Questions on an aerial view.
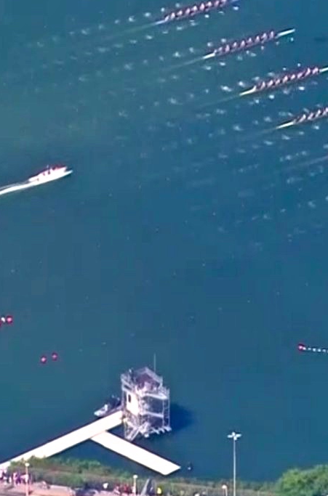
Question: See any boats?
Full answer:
Yes, a boat can be made out from above.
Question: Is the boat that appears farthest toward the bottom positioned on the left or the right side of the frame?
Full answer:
The boat that appears farthest toward the bottom appears in the left half of the scene.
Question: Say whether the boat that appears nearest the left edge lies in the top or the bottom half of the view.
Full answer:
The boat that appears nearest the left edge sits in the top half of the picture.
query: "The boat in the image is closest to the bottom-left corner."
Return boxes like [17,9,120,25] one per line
[95,392,123,413]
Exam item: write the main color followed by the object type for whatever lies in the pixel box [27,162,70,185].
white boat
